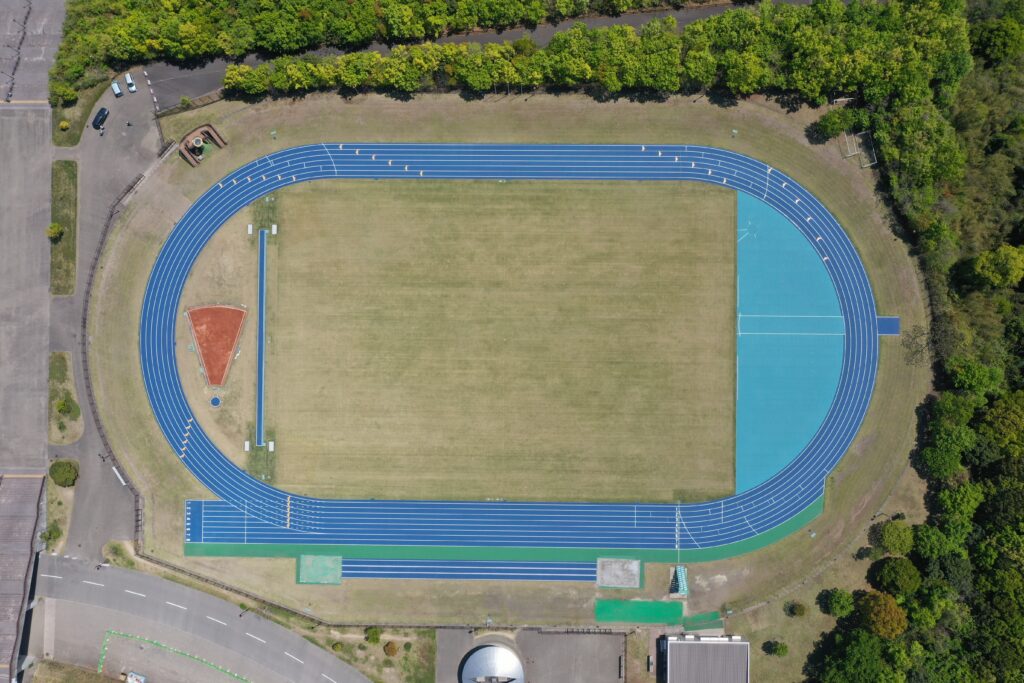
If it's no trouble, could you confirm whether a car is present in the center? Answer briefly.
No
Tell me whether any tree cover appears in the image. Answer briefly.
Yes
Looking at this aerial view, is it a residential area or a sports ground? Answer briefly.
sports ground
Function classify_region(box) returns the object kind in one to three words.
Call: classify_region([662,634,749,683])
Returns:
building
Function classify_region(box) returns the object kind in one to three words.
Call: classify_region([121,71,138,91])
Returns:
car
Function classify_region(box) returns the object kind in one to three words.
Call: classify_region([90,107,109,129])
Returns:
car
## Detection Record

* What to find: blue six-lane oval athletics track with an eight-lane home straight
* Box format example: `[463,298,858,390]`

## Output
[139,143,879,589]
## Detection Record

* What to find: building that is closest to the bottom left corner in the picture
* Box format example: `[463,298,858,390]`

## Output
[461,640,526,683]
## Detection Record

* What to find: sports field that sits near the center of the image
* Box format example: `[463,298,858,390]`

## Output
[274,179,737,502]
